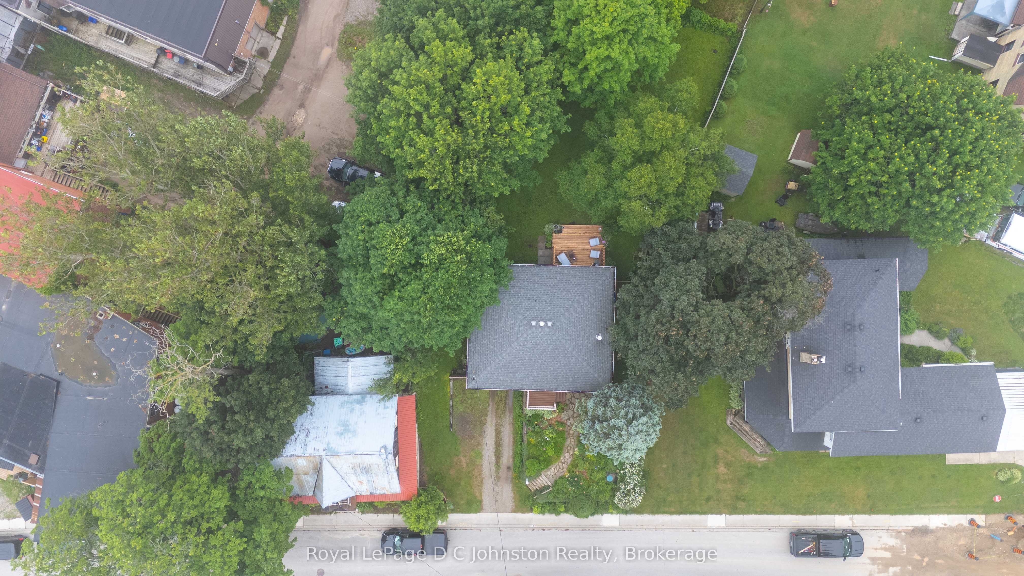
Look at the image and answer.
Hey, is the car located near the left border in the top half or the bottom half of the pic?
bottom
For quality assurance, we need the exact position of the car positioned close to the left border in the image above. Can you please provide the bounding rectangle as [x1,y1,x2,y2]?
[0,530,29,559]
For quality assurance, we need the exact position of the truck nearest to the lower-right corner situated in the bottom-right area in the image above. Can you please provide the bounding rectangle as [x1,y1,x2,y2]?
[787,526,865,559]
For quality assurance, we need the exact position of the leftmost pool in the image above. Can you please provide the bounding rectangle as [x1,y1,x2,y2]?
[276,305,329,352]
